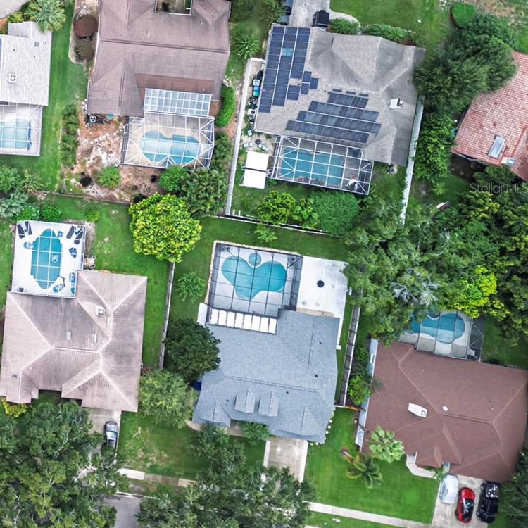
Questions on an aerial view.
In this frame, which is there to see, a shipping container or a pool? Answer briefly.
pool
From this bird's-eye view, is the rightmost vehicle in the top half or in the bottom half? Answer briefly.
bottom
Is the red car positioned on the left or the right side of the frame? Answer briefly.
right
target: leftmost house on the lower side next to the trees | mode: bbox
[0,270,147,413]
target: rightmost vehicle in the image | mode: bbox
[477,481,503,524]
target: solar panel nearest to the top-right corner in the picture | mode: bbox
[488,136,506,158]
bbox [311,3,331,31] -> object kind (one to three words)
car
